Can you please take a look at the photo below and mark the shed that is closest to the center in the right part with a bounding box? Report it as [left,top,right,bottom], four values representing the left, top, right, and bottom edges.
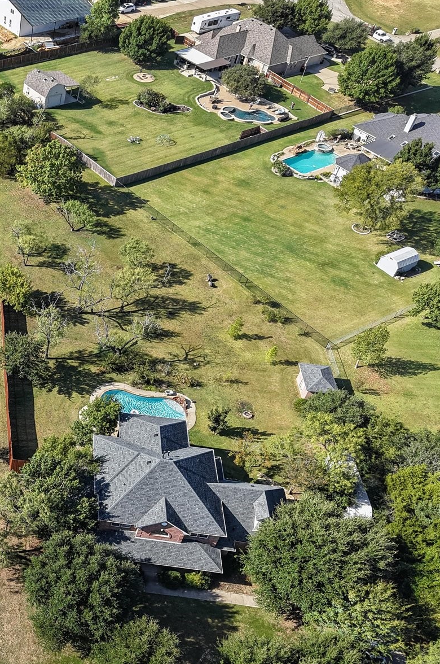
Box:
[294,364,335,407]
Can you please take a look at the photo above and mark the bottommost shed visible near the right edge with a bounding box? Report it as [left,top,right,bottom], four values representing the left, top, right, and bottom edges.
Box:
[377,243,421,277]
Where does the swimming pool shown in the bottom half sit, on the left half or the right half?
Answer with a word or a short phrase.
left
